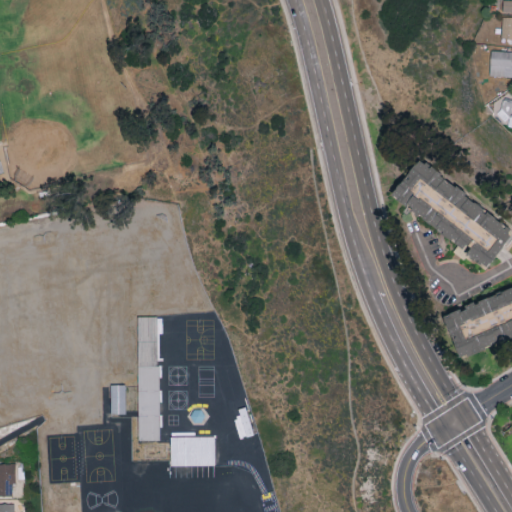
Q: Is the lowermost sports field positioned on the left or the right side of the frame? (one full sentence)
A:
It is on the left.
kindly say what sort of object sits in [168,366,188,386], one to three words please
sports court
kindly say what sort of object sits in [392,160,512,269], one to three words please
building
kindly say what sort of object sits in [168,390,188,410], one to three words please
sports court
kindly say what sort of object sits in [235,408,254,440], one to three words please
building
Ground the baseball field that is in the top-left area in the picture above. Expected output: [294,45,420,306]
[0,0,152,193]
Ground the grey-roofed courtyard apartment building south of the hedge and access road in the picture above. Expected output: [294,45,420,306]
[443,284,512,359]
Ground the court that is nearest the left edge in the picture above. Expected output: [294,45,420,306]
[48,434,80,484]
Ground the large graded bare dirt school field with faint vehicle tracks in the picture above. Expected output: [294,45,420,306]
[0,201,214,512]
